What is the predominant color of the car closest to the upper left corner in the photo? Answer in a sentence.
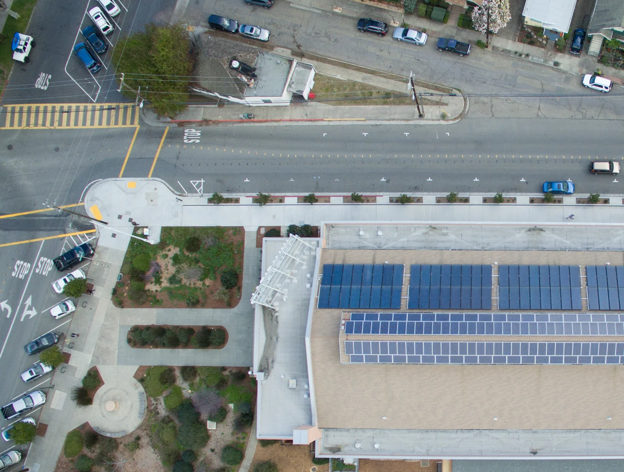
The car closest to the upper left corner is white.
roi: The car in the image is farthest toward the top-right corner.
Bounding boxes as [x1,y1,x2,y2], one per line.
[571,27,586,56]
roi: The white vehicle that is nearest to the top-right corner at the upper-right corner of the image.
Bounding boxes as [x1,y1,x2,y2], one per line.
[582,74,614,93]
